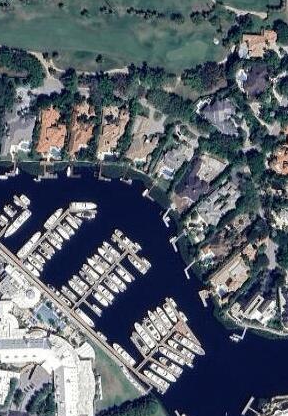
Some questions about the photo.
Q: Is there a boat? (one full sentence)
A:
Yes, there is a boat in the image.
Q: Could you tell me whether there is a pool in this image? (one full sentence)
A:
Yes, a pool is visible in the scene.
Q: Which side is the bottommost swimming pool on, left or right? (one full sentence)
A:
The bottommost swimming pool is on the left side of the image.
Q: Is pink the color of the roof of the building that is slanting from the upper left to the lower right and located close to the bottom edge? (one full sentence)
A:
No, from above the roof of the building that is slanting from the upper left to the lower right and located close to the bottom edge looks white.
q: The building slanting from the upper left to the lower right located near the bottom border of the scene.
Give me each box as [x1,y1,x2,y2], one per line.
[0,302,96,416]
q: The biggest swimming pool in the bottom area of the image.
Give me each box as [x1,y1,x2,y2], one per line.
[33,303,65,329]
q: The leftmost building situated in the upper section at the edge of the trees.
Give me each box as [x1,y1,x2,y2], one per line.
[4,106,36,141]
